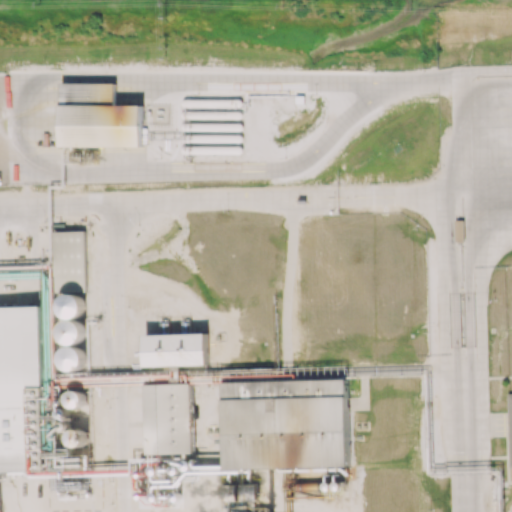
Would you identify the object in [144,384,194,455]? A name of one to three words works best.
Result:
shed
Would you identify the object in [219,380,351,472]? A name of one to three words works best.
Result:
building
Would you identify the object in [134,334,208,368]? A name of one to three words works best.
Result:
building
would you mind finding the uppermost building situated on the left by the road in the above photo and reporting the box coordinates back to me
[54,84,144,148]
